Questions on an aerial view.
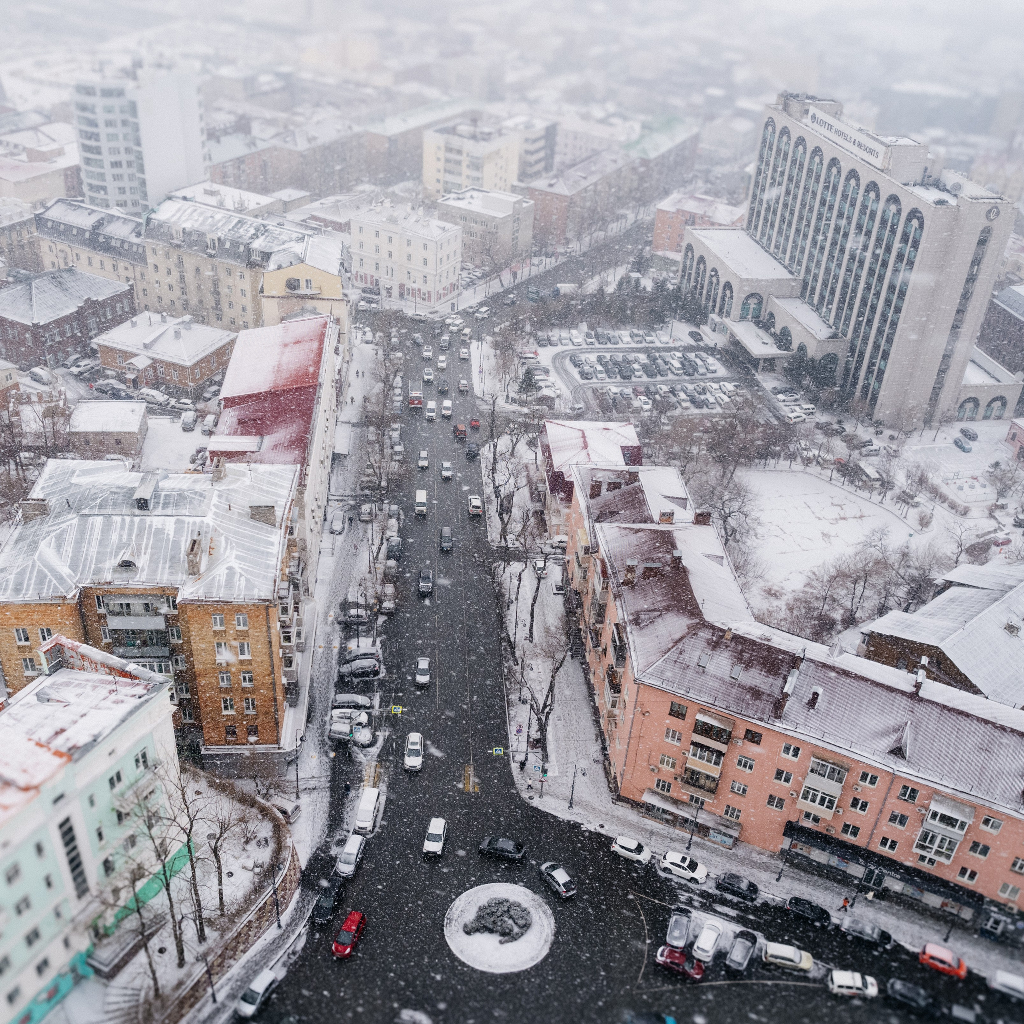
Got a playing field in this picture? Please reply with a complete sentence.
Yes, the image includes a playing field.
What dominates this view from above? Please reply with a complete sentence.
The bulk of the photo consists of buildings.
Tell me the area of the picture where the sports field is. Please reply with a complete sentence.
The sports field sits in the right section of the image.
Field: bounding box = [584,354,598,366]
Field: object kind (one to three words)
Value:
vehicle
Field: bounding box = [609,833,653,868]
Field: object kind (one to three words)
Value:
car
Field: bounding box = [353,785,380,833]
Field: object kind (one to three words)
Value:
vehicle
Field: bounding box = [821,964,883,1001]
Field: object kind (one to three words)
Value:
car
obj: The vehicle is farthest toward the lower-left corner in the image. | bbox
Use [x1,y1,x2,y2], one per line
[232,958,280,1024]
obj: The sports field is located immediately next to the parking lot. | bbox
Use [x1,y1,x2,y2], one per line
[740,469,933,592]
